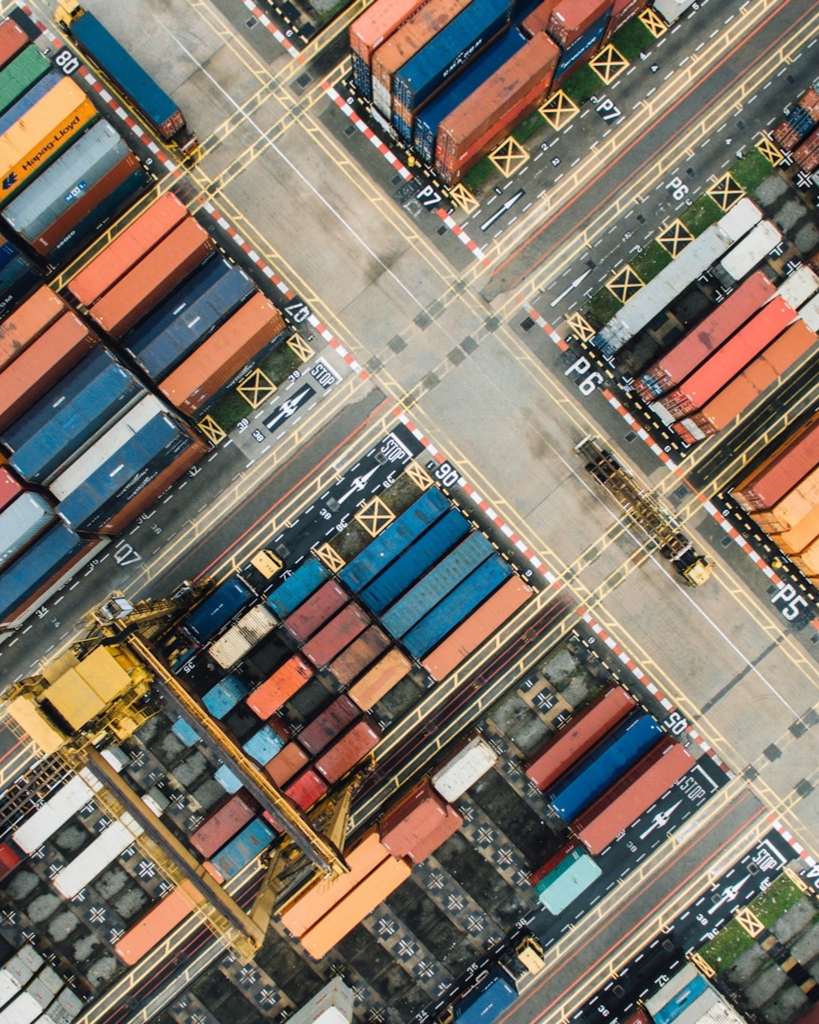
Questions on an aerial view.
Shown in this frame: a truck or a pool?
truck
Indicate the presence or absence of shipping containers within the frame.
Yes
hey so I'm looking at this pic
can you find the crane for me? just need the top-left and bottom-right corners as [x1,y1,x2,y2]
[2,584,373,973]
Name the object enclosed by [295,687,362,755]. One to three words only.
shipping container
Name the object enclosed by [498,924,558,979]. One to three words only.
truck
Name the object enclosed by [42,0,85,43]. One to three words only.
truck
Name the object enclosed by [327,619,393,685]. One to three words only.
shipping container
